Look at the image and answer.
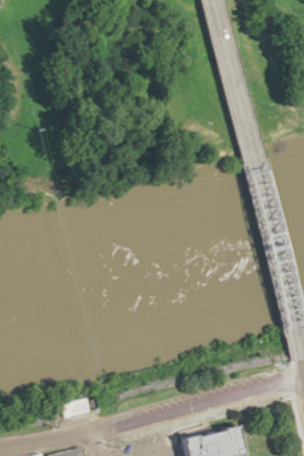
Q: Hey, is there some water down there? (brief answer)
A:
Yes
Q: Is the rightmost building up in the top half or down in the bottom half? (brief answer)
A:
bottom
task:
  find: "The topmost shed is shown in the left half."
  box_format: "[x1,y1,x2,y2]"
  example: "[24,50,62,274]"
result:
[62,398,96,419]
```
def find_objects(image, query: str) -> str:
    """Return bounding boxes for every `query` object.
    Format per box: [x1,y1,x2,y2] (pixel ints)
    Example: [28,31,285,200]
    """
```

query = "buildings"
[62,398,96,419]
[40,446,80,456]
[181,424,250,456]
